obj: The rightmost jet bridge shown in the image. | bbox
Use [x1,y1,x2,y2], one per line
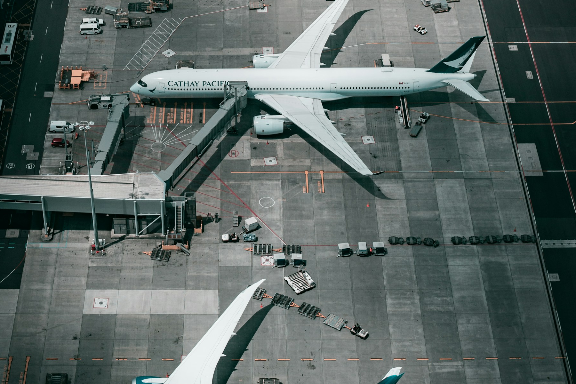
[158,77,247,213]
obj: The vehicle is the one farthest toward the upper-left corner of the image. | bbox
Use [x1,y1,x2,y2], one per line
[0,23,20,68]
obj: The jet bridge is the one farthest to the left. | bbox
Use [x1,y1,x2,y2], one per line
[84,92,133,174]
